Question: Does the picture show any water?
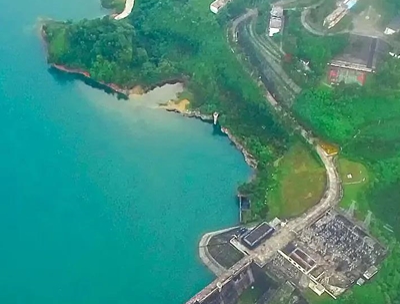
Yes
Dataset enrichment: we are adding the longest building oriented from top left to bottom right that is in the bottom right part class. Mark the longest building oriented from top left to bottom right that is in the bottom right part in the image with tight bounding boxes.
[279,245,327,280]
